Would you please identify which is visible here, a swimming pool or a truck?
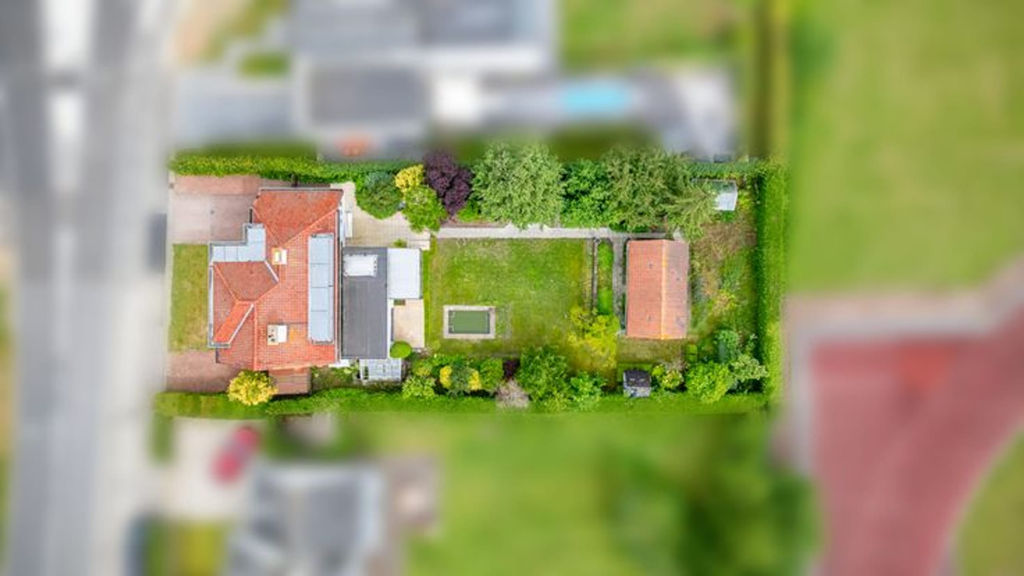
swimming pool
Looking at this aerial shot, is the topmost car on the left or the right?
left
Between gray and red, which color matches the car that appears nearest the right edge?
red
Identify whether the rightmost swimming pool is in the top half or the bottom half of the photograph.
top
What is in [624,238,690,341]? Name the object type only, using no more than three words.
shed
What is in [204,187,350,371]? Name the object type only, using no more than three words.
house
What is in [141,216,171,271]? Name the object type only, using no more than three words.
car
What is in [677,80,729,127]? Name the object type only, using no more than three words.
building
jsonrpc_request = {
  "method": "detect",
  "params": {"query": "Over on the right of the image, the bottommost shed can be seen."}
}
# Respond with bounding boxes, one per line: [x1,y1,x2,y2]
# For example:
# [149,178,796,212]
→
[622,370,653,398]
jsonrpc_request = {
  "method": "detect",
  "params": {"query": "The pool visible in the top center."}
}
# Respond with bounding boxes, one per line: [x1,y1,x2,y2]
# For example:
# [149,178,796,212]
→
[558,78,639,117]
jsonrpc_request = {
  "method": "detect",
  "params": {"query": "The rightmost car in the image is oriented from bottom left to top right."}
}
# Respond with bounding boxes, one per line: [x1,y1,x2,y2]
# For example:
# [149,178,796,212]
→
[214,426,261,482]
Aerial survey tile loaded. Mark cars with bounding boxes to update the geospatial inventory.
[141,216,171,271]
[125,522,154,576]
[214,426,261,482]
